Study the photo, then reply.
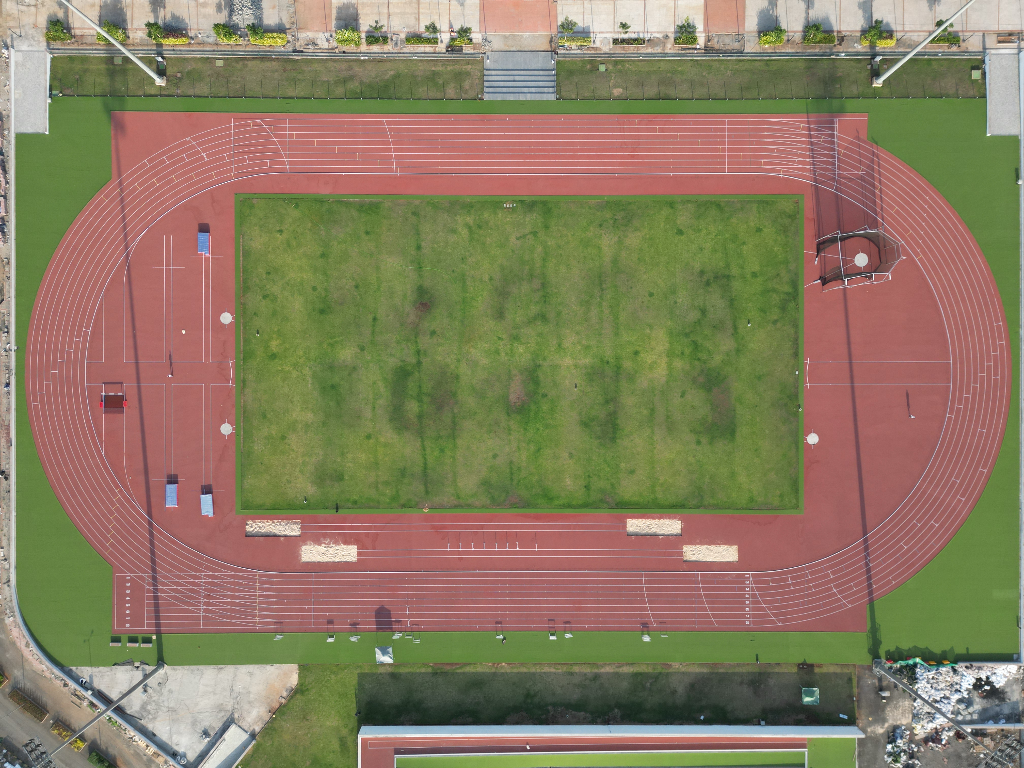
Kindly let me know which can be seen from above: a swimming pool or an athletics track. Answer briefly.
athletics track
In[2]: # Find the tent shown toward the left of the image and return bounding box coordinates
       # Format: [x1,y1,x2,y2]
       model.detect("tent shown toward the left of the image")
[375,641,396,664]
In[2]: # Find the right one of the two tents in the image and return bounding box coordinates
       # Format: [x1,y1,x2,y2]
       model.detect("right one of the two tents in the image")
[799,684,819,705]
